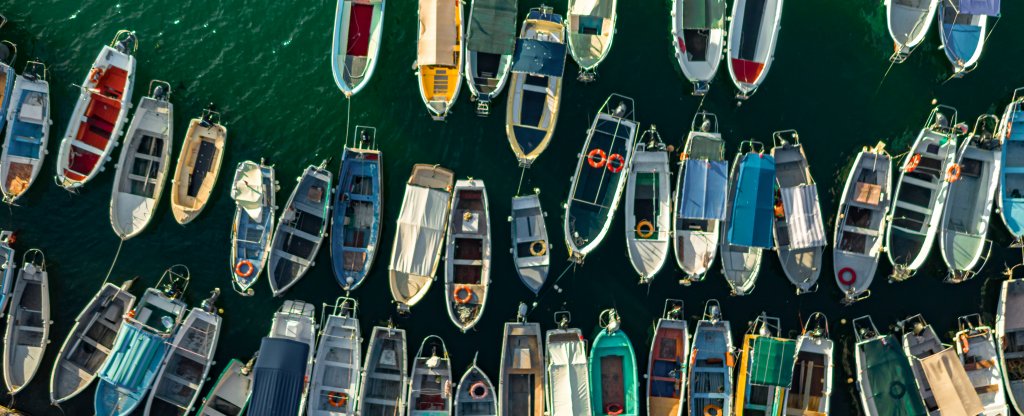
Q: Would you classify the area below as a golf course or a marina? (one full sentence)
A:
The picture captures a marina.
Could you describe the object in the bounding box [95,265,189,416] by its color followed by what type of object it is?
blue boat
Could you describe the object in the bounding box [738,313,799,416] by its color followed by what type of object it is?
green boat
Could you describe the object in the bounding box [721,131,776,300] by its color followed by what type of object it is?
blue boat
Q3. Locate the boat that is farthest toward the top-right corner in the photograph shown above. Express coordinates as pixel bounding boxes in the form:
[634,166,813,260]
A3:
[935,0,1001,76]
